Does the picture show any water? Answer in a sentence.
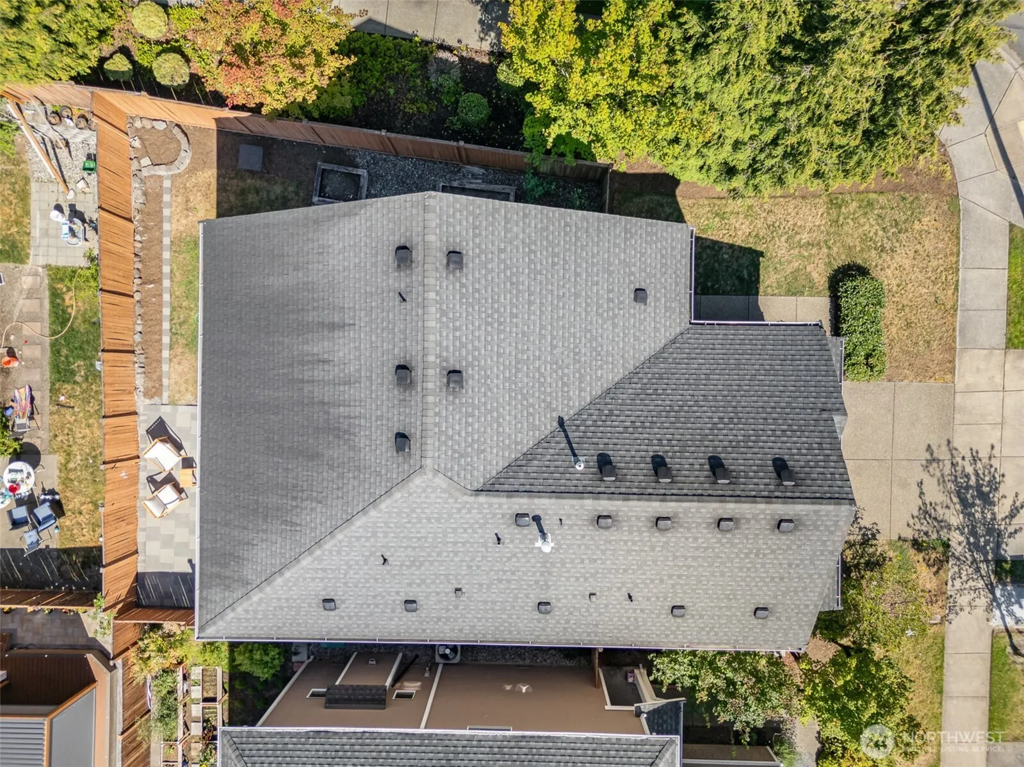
No, the scene doesn't show any water.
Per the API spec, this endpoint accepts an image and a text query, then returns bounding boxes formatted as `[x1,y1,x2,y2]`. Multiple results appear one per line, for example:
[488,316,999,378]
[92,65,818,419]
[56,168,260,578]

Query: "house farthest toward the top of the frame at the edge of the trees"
[190,192,856,654]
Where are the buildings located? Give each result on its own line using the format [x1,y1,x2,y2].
[190,192,856,654]
[214,651,688,767]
